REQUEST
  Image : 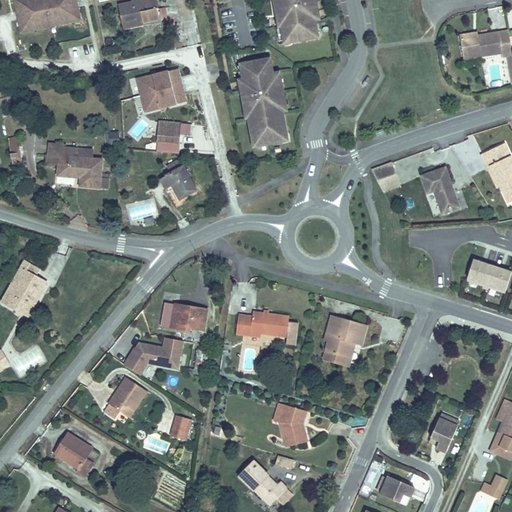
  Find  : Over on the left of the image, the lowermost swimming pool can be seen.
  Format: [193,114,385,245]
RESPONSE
[147,438,170,454]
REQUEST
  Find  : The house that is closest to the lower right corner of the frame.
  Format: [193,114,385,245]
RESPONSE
[480,474,509,500]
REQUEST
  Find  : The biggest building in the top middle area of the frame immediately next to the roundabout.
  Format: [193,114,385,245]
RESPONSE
[238,52,290,148]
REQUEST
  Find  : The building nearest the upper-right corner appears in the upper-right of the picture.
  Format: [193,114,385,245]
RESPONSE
[460,28,512,86]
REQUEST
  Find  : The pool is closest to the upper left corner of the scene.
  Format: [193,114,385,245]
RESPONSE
[130,119,149,137]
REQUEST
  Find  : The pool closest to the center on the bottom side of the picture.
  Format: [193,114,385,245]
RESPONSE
[243,348,256,371]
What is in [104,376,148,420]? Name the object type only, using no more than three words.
house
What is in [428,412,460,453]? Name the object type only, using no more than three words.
house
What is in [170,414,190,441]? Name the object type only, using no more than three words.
building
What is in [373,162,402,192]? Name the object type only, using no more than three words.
building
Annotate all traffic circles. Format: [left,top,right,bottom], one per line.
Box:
[254,172,376,288]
